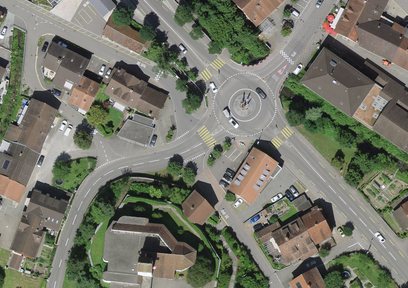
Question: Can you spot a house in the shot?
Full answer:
Yes, the photo shows a house.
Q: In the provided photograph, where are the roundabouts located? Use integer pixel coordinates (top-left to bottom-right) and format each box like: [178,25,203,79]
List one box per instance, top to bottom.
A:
[210,69,282,140]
